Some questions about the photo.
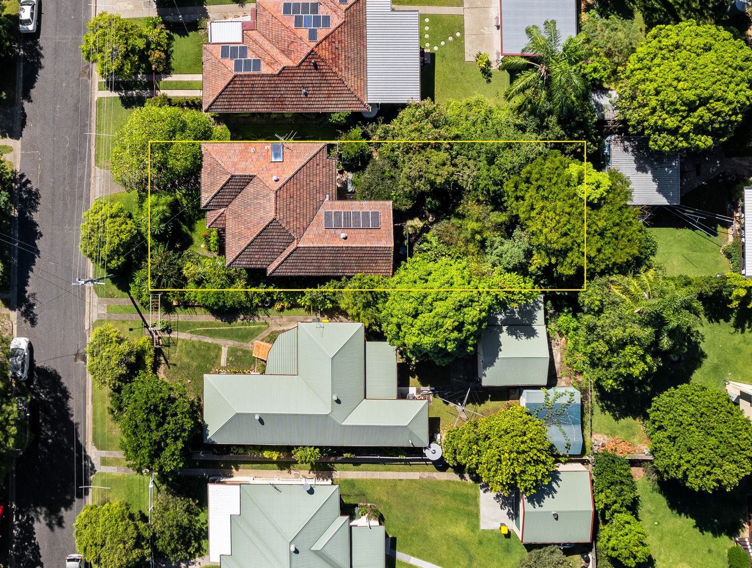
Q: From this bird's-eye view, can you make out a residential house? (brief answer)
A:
Yes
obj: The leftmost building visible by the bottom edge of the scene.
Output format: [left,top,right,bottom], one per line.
[207,475,386,568]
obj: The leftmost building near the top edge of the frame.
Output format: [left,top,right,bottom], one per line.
[201,0,421,113]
